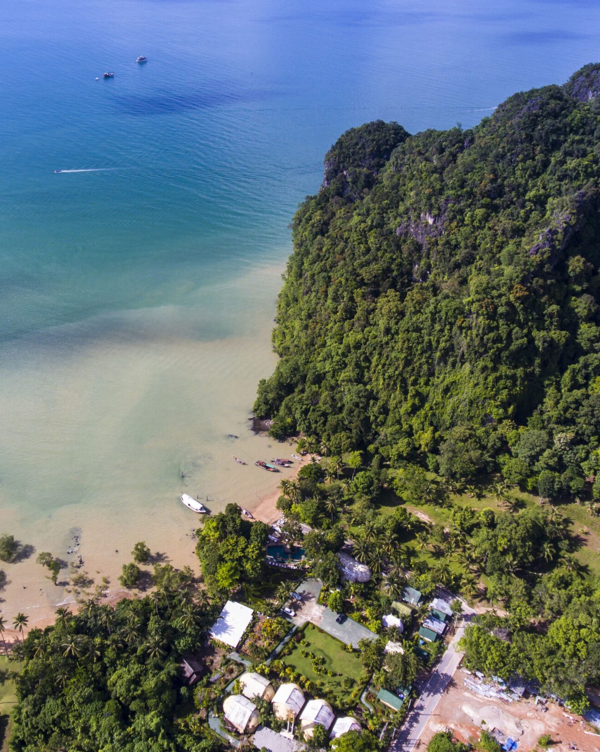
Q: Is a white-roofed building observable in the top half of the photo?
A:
No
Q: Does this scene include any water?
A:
Yes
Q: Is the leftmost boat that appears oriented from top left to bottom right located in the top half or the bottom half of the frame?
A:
bottom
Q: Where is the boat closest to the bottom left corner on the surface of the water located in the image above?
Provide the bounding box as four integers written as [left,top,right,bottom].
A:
[177,490,206,513]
